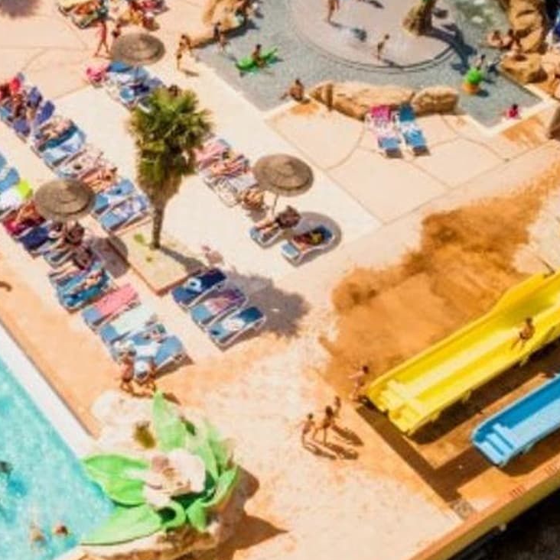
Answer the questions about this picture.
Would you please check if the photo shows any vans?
No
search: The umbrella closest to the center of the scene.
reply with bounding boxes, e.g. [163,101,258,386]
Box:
[250,159,314,218]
